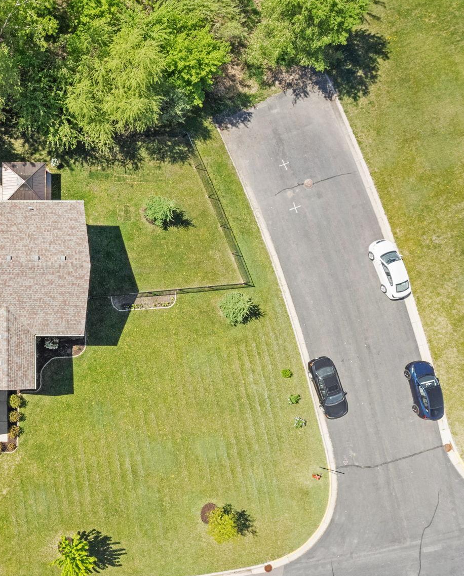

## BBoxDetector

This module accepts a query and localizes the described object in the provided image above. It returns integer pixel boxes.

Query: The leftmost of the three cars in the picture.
[309,357,349,419]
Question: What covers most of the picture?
grass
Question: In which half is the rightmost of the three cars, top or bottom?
bottom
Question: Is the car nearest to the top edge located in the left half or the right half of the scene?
right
